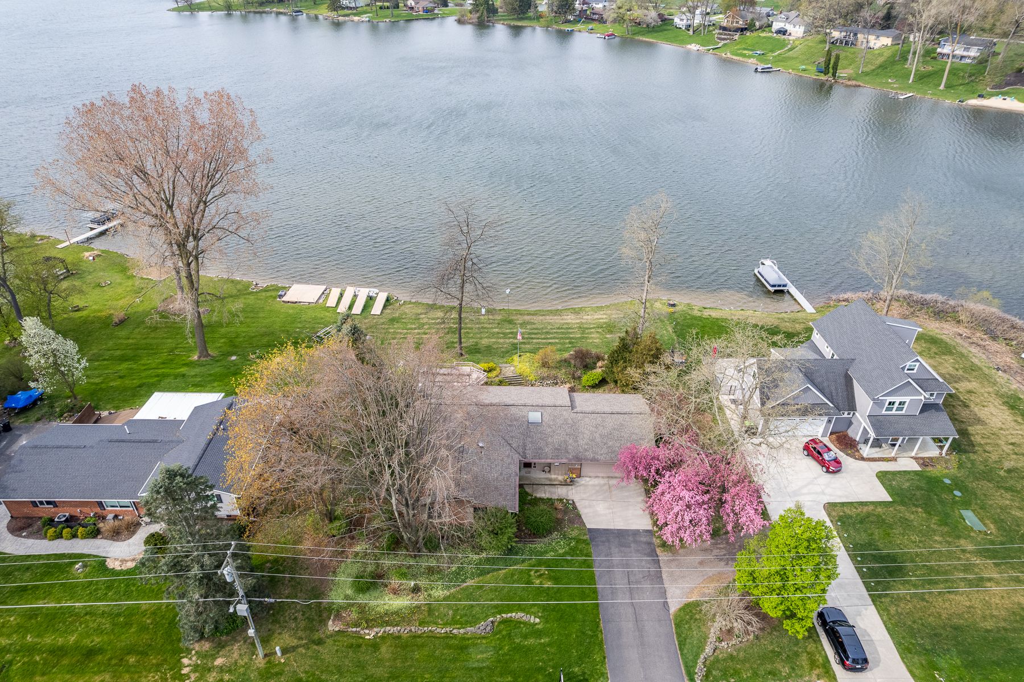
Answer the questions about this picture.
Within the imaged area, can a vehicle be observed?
Yes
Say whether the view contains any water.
Yes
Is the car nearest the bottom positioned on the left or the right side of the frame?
right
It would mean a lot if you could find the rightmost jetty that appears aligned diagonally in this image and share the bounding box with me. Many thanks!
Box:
[760,257,818,315]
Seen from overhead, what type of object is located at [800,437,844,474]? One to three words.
car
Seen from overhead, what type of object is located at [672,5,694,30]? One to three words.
house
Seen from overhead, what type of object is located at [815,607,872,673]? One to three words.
car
